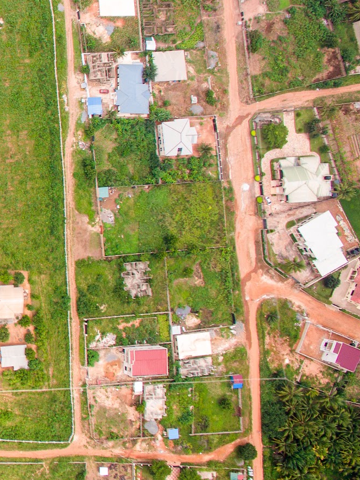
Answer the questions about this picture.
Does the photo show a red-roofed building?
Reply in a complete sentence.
Yes, a red-roofed building is visible in the scene.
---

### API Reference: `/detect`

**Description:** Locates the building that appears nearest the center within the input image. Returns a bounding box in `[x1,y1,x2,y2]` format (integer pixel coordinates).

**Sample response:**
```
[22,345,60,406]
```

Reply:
[120,261,150,297]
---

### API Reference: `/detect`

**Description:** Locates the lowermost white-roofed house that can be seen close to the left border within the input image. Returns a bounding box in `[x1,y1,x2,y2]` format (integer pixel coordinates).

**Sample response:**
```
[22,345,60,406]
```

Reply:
[0,345,29,371]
